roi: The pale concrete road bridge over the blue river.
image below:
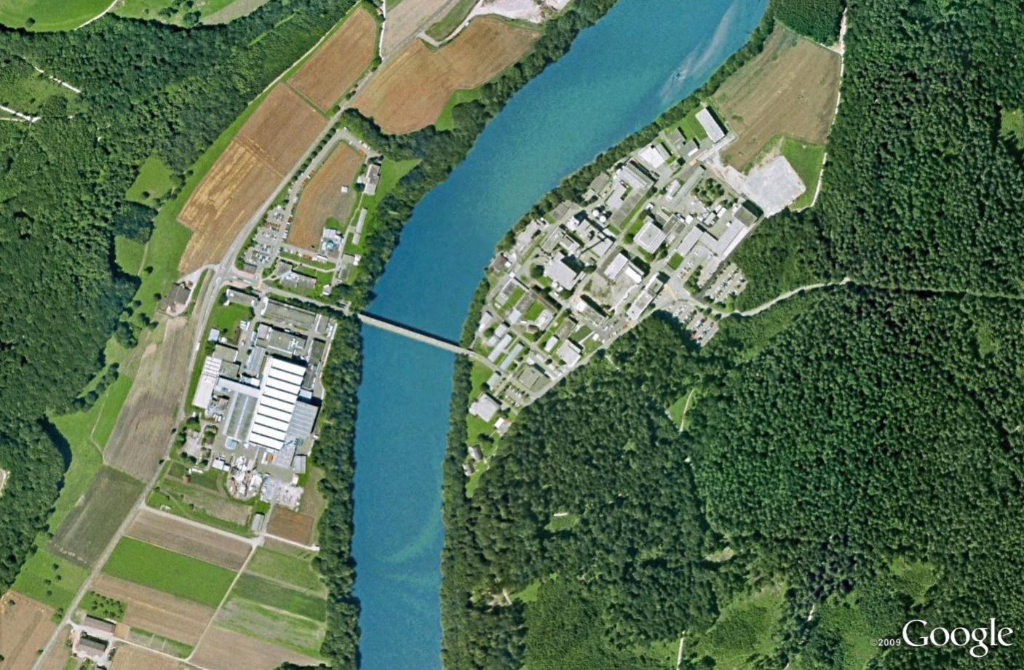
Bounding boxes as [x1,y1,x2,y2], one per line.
[354,314,469,356]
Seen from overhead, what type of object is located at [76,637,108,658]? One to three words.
house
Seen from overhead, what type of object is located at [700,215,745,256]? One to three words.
building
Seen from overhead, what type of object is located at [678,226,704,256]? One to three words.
building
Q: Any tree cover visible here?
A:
Yes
